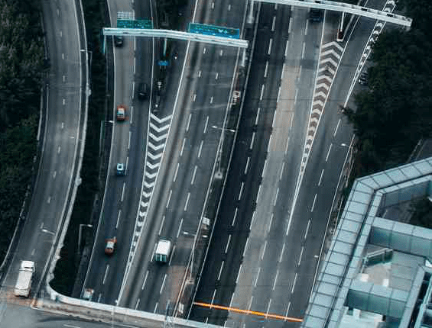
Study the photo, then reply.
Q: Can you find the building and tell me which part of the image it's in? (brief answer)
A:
bottom right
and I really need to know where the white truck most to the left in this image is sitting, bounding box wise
[13,255,35,293]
